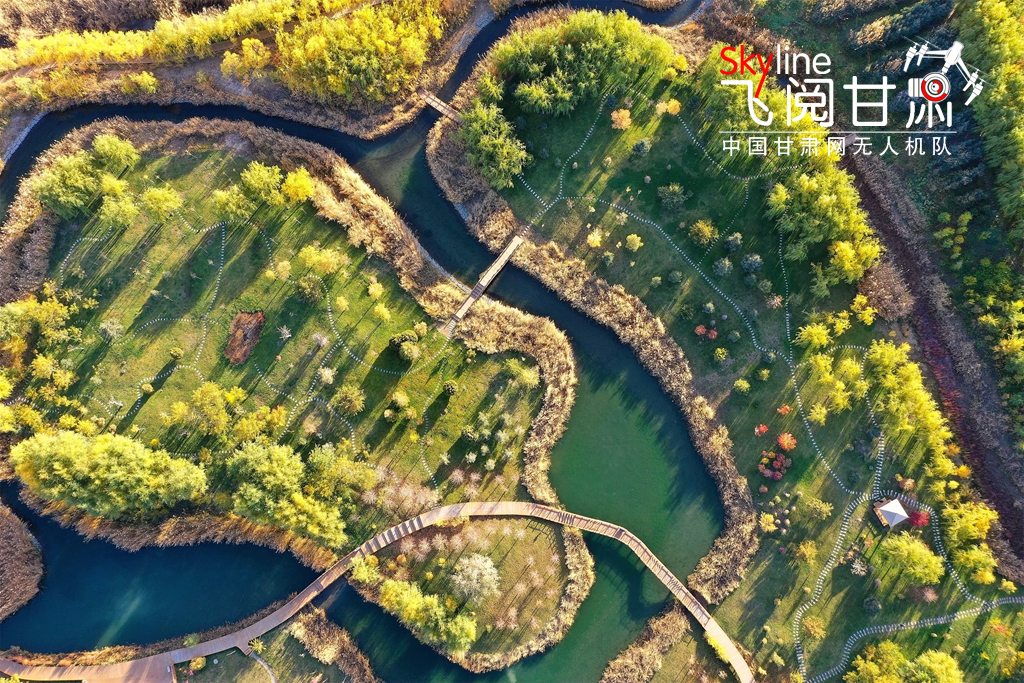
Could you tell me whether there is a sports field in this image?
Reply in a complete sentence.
No, there appears to be no sports field in this shot.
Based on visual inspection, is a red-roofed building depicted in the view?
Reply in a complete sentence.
No, the photo shows no red-roofed building.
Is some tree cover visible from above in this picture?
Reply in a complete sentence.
Yes, the picture does contain tree cover.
